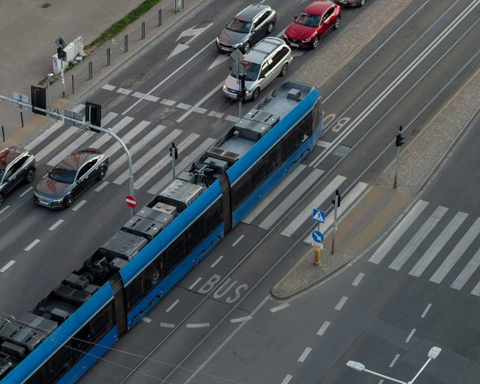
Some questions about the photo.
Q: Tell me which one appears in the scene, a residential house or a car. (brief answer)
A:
car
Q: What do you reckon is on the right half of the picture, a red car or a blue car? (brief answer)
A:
red car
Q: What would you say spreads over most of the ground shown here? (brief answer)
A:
paved ground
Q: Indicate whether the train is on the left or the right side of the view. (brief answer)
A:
left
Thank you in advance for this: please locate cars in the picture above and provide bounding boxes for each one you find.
[0,146,39,207]
[217,1,280,50]
[33,147,112,207]
[284,0,346,48]
[220,37,295,100]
